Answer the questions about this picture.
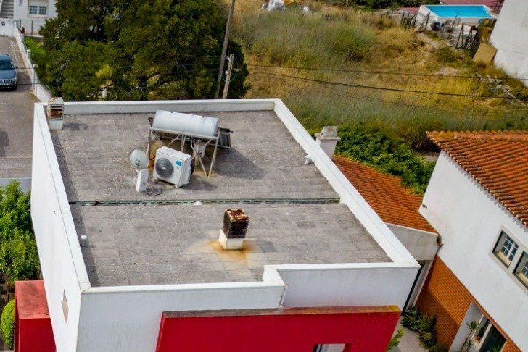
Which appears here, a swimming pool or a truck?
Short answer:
swimming pool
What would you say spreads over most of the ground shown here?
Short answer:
buildings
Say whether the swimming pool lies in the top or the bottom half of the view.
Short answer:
top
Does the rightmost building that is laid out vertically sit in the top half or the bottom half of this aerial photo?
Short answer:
top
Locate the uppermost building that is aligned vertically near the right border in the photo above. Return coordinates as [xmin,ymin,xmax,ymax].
[493,0,528,79]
